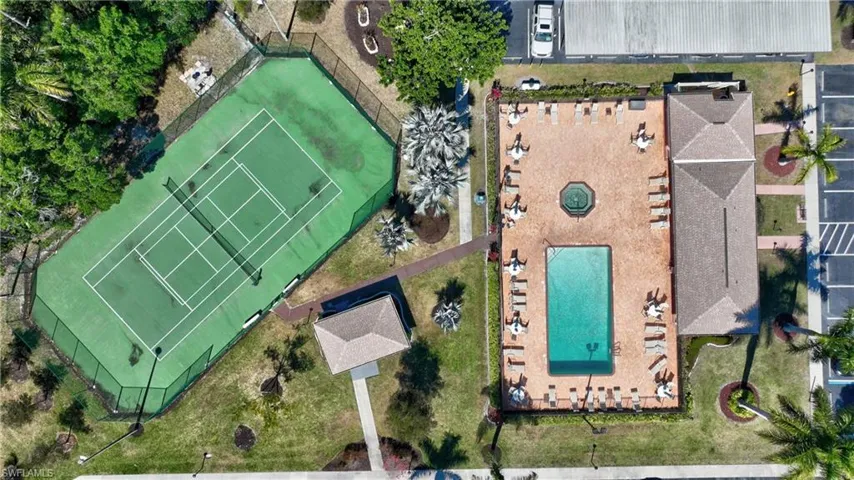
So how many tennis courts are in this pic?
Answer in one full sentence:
Only 1 tennis court is visible.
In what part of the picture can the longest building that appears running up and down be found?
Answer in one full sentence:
You can find the longest building that appears running up and down in the right area of the picture.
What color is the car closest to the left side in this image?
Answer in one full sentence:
The color of the car closest to the left side is white.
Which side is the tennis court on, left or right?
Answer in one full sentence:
The tennis court sits on the left side.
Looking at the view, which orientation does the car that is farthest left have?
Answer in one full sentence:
Seen from above, the car that is farthest left lies up and down.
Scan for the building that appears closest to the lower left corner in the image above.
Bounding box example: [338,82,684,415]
[314,294,412,374]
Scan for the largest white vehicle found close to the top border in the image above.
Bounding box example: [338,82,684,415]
[533,9,559,61]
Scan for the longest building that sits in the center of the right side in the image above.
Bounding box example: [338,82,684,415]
[662,91,760,335]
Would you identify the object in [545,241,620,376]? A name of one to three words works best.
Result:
swimming pool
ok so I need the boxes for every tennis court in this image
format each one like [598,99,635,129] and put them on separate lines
[33,58,394,413]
